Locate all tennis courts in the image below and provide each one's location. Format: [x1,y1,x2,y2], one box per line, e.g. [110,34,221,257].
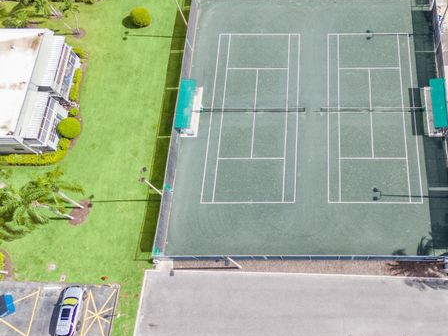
[311,0,448,259]
[166,0,314,259]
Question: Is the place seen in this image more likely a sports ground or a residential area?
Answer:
sports ground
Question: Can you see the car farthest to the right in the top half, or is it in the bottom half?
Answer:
bottom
